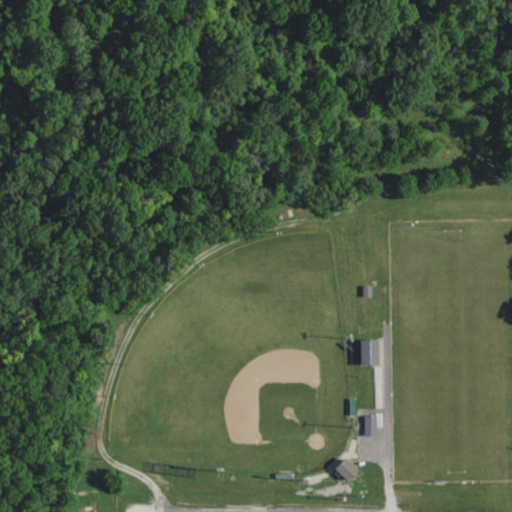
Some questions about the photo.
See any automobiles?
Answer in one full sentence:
No, the photo shows no automobile.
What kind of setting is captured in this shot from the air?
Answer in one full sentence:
It's a sports ground.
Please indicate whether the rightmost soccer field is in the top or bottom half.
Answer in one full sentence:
The bottom half of the photo is where the rightmost soccer field is.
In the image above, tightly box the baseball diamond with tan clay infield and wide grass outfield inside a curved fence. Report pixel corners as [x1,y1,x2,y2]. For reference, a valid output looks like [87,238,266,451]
[110,231,348,468]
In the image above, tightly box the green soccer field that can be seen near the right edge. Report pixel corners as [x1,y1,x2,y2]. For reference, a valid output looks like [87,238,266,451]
[388,218,512,484]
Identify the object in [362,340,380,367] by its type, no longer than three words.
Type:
building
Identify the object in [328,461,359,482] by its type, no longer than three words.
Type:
building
